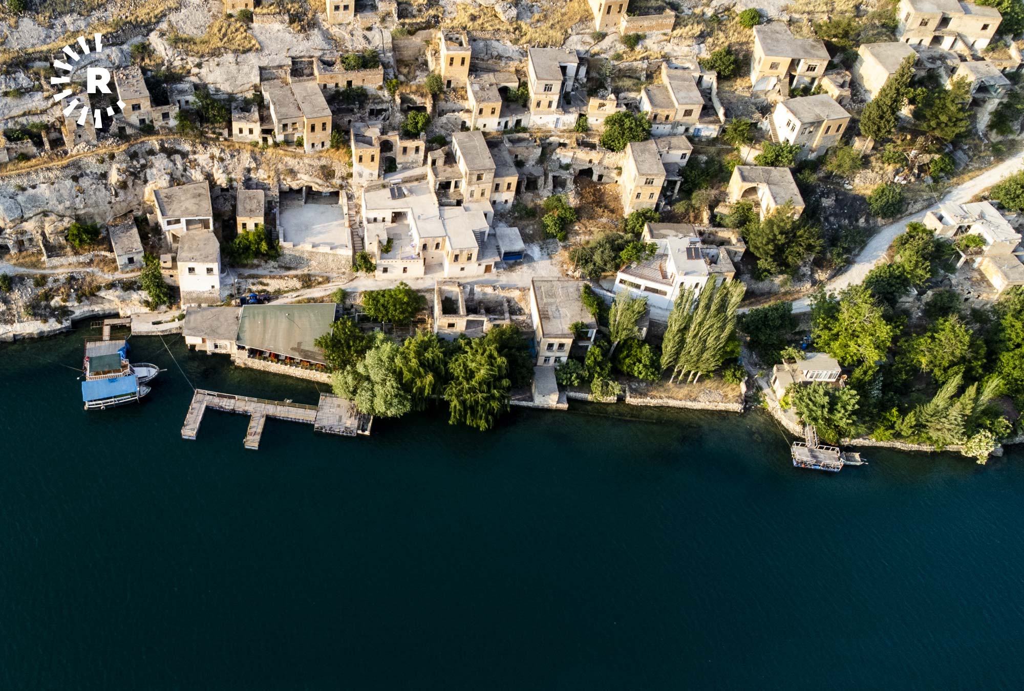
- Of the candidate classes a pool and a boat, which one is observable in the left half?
boat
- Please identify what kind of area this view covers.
residential area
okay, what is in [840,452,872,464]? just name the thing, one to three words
boat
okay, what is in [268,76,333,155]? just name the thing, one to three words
house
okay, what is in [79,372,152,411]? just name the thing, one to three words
boat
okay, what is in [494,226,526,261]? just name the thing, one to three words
shed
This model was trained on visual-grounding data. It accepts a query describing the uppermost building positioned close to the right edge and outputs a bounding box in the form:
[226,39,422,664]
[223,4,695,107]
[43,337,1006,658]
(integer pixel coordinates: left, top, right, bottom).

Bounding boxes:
[897,0,1004,50]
